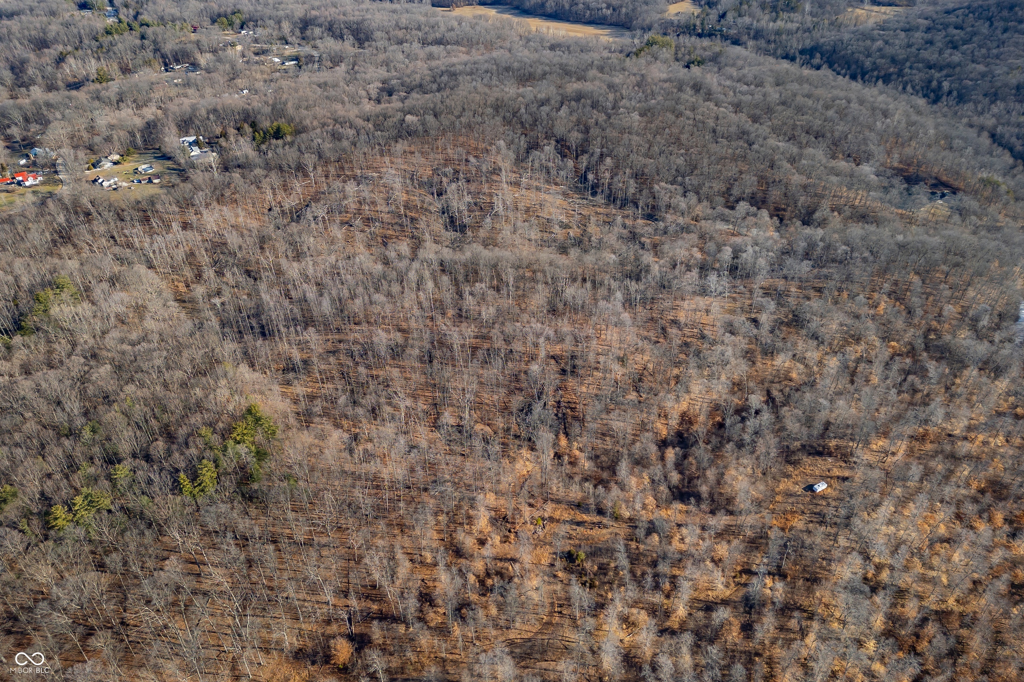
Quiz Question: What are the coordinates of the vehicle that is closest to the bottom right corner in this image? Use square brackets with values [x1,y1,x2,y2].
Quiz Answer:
[813,480,829,495]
